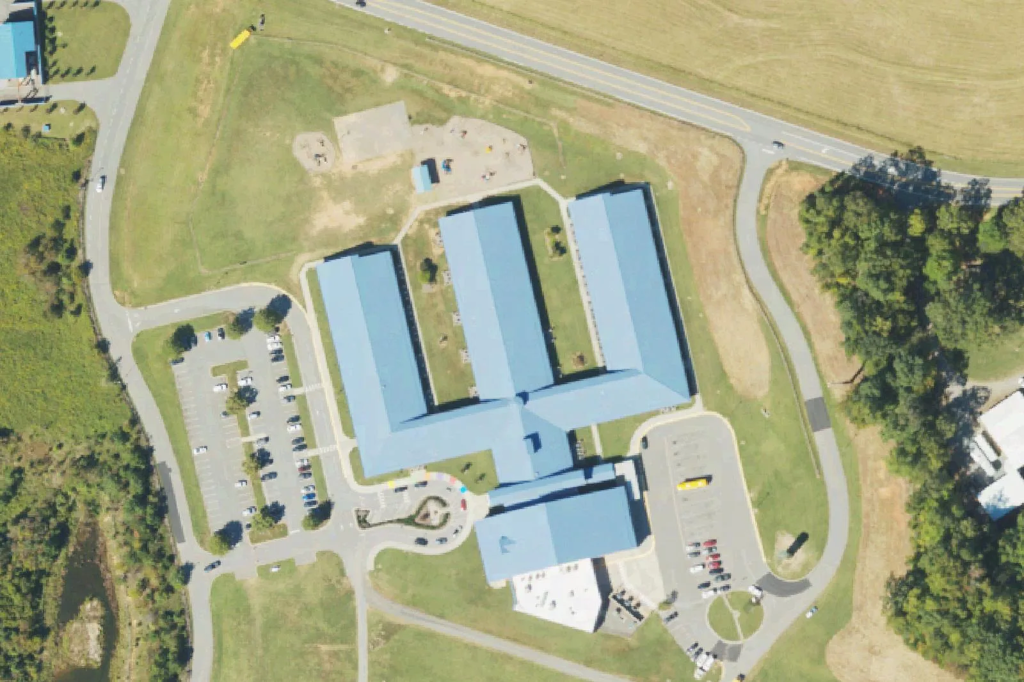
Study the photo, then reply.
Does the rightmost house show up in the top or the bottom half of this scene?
bottom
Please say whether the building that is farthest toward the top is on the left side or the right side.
left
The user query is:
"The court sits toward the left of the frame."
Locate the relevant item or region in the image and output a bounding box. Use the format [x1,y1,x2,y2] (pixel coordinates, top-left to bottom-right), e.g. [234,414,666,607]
[334,100,411,170]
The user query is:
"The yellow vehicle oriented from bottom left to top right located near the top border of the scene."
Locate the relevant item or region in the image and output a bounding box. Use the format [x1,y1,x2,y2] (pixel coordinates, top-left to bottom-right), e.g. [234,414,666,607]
[229,29,252,48]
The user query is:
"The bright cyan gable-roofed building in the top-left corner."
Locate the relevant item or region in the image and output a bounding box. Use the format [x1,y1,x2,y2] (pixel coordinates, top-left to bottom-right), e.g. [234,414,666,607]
[0,21,35,78]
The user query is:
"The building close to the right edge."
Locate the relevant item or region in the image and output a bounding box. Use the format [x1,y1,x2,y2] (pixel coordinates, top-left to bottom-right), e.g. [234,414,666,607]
[969,391,1024,519]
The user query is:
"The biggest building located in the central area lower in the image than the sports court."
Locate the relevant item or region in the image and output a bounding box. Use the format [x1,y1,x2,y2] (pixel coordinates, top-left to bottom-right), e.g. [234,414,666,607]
[316,189,692,484]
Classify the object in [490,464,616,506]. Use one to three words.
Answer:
building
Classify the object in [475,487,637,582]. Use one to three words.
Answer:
building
